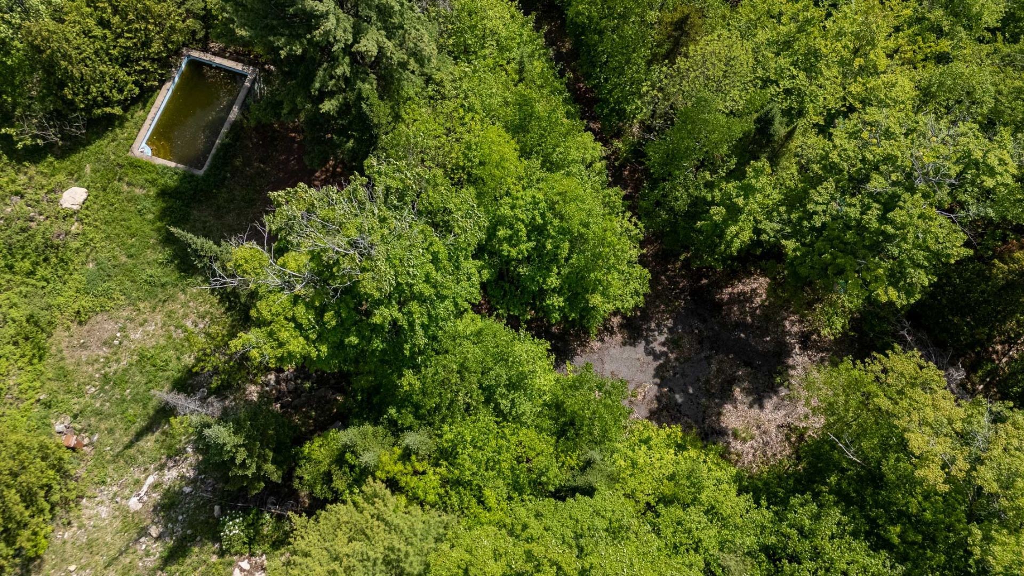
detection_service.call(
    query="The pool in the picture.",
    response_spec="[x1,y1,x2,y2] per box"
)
[130,52,262,176]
